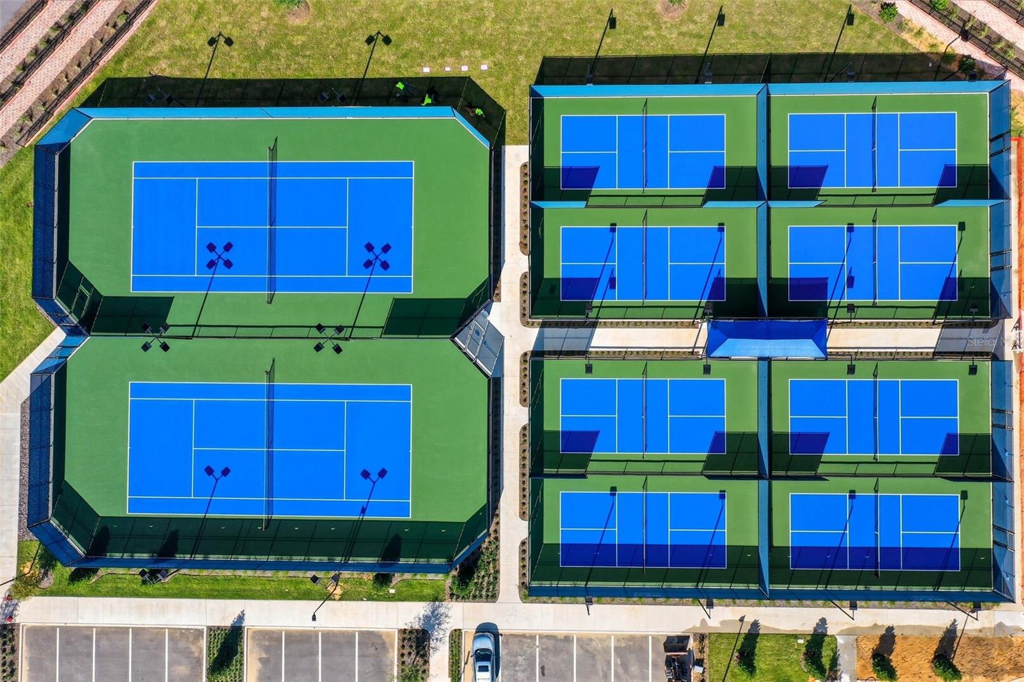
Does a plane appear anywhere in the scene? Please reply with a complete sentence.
No, the frame has no plane in it.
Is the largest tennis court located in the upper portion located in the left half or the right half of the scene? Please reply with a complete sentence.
You can find the largest tennis court located in the upper portion on the left side of the picture.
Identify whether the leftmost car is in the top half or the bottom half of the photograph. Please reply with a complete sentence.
Seen from above, the leftmost car lies in the bottom half of the view.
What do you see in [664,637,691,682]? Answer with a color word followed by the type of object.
black work vehicle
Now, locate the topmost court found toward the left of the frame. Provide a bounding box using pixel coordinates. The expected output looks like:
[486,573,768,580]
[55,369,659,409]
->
[56,117,489,337]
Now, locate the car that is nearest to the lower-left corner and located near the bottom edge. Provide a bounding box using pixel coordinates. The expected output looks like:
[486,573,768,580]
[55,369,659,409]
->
[470,631,498,682]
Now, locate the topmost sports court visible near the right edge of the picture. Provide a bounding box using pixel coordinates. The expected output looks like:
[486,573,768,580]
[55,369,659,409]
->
[767,94,988,206]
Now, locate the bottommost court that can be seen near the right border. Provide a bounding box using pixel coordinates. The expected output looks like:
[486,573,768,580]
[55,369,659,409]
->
[770,477,993,589]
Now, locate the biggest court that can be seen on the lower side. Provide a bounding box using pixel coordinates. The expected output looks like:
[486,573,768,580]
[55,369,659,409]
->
[53,337,489,562]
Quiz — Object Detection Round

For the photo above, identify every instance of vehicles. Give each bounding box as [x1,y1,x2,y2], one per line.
[664,637,691,682]
[470,631,498,682]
